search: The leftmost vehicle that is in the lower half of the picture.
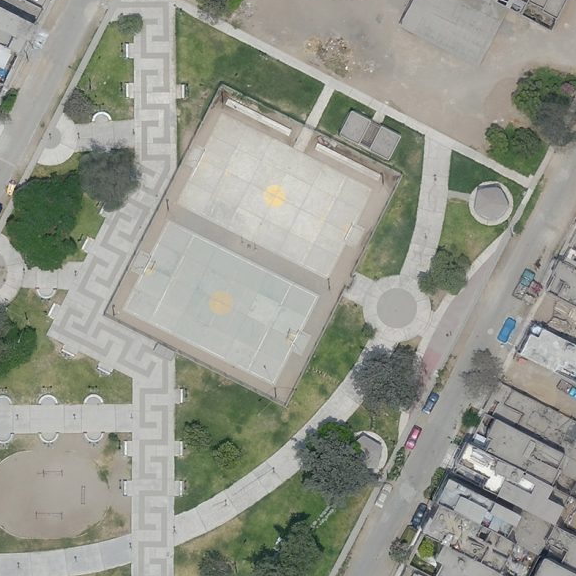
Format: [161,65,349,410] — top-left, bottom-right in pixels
[373,481,393,509]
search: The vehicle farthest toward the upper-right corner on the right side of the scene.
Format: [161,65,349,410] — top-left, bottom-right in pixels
[511,267,536,301]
